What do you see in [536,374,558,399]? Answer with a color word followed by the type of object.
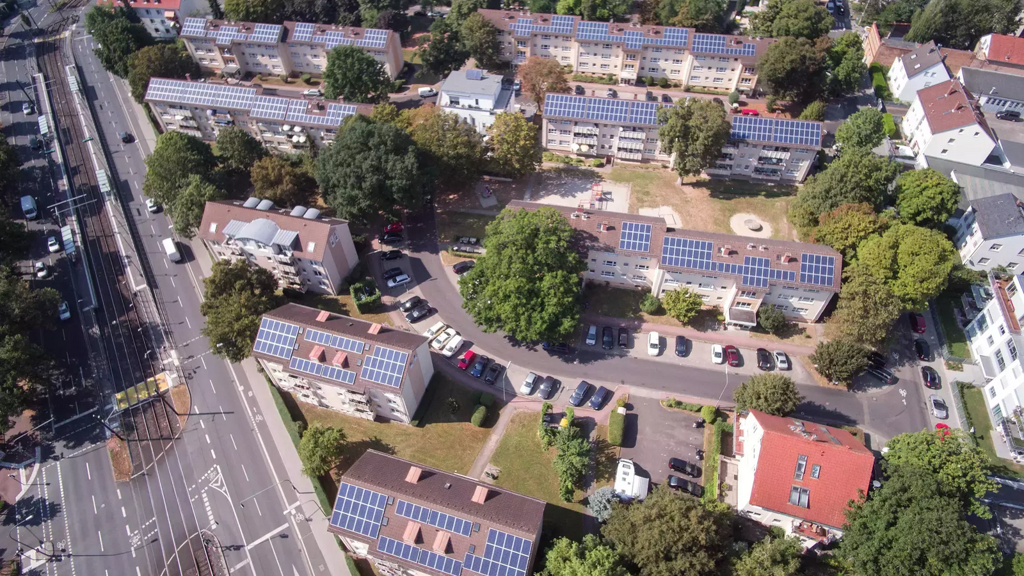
gray car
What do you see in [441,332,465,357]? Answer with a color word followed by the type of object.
white vehicle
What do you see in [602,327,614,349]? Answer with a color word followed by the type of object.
black vehicle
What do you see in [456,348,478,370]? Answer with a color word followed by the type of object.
red car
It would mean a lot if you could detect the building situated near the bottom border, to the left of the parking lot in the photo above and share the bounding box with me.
[329,451,546,576]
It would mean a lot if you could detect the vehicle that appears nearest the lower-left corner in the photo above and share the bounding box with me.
[54,301,72,320]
